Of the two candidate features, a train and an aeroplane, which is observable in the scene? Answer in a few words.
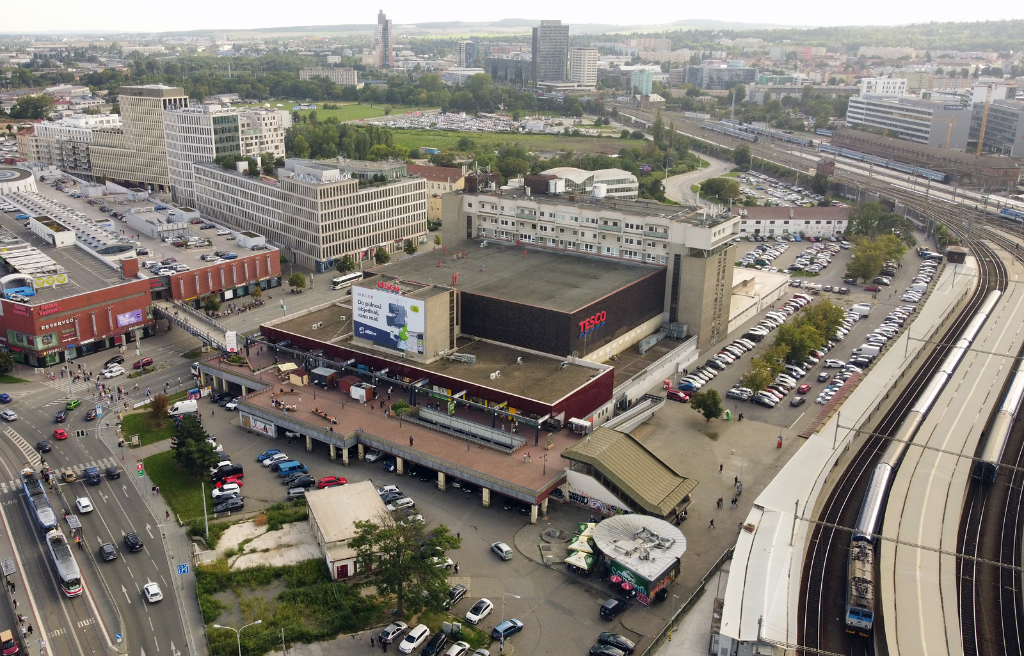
train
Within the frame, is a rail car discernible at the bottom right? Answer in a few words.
Yes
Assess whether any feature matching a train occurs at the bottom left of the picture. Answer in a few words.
Yes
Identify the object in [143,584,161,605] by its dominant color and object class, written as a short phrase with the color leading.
white car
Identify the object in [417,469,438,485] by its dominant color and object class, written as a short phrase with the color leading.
black car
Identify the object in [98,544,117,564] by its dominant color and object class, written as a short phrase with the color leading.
gray car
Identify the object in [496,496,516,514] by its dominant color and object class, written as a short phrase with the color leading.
black car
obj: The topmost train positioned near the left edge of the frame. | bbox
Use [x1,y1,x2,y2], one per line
[19,463,56,543]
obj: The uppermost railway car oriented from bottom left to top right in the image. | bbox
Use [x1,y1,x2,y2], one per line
[960,291,1003,347]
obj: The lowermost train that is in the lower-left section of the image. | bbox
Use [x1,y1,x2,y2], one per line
[44,526,88,611]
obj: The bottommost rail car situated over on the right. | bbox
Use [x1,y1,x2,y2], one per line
[845,536,874,649]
